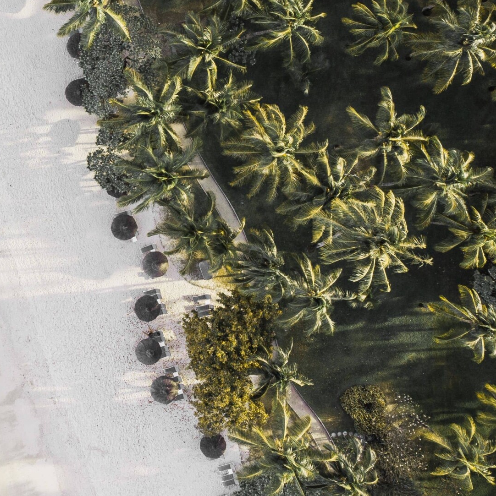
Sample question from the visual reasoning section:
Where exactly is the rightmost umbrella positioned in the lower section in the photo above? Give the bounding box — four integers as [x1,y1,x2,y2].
[198,433,226,459]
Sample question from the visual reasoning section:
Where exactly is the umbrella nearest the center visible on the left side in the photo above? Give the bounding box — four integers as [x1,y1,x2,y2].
[141,250,169,279]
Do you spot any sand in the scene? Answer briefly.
Yes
